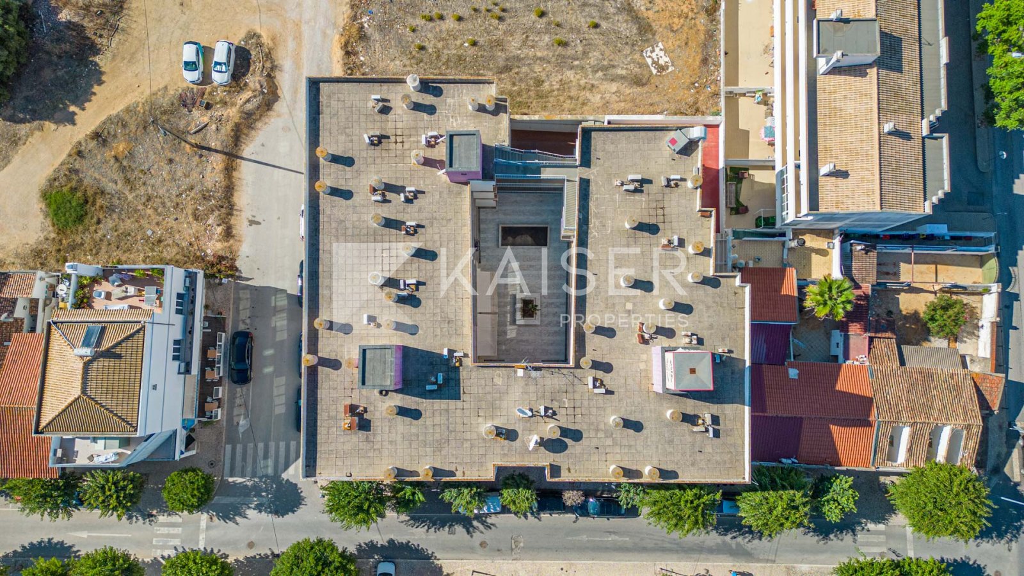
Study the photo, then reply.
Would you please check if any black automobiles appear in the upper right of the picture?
No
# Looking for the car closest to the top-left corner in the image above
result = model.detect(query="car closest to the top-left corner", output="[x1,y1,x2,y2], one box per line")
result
[182,41,209,86]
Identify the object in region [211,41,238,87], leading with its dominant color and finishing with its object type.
white car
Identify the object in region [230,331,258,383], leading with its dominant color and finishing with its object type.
black car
